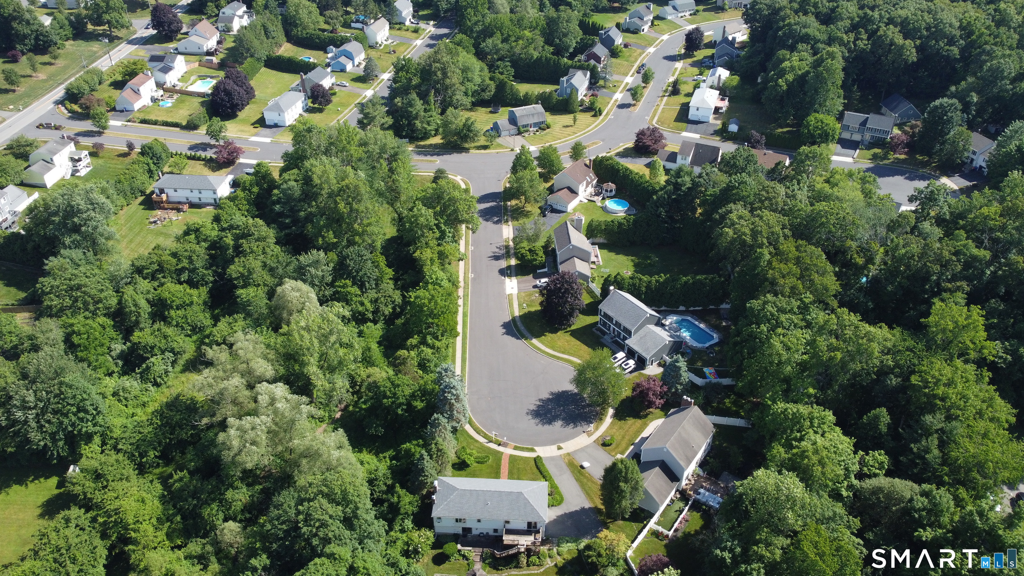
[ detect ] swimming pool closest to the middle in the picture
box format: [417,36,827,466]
[602,198,640,216]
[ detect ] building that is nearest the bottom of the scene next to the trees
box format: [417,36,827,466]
[429,477,549,576]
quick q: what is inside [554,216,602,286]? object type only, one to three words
house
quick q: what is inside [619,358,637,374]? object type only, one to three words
car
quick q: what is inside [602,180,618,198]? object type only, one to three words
gazebo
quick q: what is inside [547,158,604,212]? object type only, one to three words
house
